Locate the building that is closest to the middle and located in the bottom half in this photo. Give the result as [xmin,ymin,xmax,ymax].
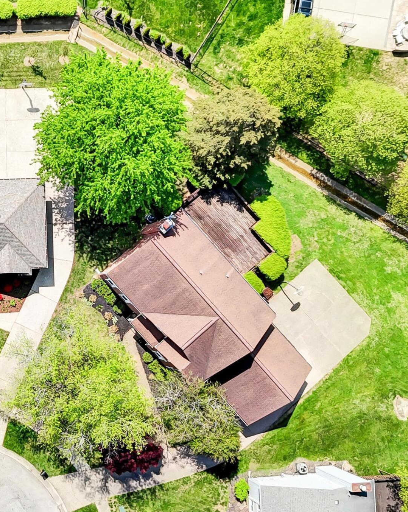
[101,207,312,427]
